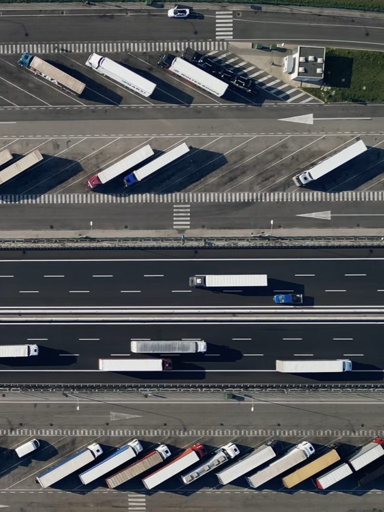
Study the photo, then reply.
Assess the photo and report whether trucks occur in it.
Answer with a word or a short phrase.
Yes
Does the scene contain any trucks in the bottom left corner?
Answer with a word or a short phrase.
Yes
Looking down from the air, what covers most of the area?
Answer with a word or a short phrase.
paved ground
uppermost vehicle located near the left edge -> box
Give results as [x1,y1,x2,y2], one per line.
[15,53,85,98]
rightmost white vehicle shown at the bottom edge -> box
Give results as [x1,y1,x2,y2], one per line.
[311,436,384,489]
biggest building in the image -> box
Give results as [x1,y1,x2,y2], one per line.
[291,45,326,81]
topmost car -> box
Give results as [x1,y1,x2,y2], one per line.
[168,5,190,17]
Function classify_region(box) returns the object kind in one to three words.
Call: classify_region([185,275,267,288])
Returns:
vehicle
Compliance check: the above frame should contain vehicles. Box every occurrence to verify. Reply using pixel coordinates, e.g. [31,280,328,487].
[273,294,303,304]
[277,440,344,488]
[99,358,172,371]
[224,75,243,89]
[152,54,227,98]
[351,456,384,487]
[208,66,226,81]
[77,437,143,485]
[36,440,103,488]
[82,54,156,98]
[0,344,39,358]
[275,359,351,372]
[0,150,43,184]
[140,442,207,489]
[242,439,314,488]
[177,440,241,484]
[185,275,267,288]
[119,142,191,190]
[214,439,284,485]
[240,82,258,96]
[168,5,190,17]
[192,59,211,73]
[0,149,14,166]
[14,438,41,458]
[311,436,384,489]
[15,53,85,98]
[102,443,170,489]
[289,140,367,190]
[81,144,155,193]
[130,339,207,353]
